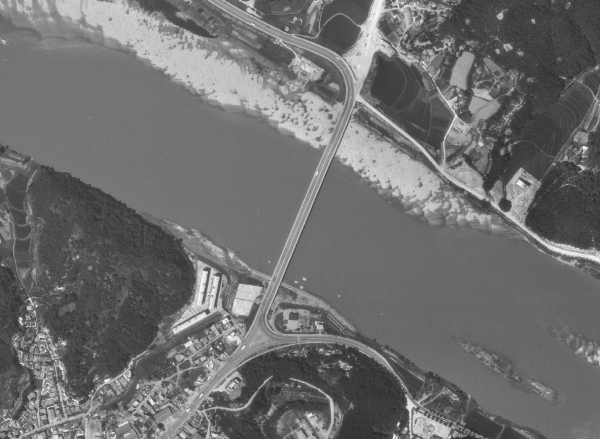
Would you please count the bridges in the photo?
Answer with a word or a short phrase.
1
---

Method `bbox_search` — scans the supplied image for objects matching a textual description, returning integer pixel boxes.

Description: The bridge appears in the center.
[268,91,356,289]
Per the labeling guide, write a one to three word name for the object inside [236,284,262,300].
building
